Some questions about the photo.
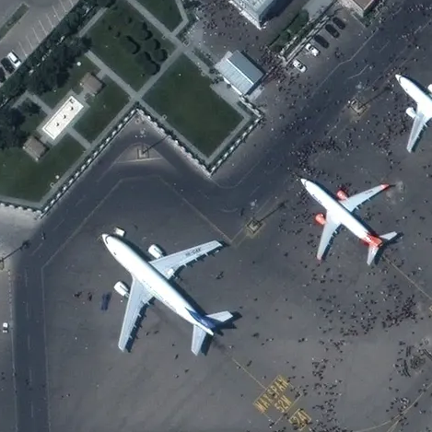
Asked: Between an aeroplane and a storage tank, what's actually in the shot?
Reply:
aeroplane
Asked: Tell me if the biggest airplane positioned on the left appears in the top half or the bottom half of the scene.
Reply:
bottom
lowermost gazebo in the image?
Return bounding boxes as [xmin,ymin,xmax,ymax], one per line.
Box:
[24,136,45,162]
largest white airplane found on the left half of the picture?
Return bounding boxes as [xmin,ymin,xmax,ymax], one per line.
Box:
[103,233,234,353]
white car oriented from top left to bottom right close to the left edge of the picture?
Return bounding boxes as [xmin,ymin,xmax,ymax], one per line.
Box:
[6,52,22,68]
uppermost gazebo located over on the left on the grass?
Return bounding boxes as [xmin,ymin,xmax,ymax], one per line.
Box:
[82,71,103,96]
